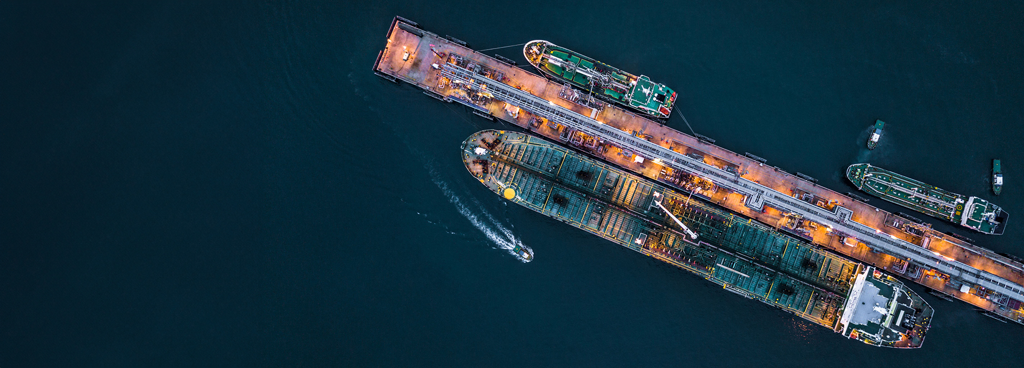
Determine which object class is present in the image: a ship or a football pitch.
ship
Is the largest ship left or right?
right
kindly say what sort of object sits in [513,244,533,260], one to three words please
boat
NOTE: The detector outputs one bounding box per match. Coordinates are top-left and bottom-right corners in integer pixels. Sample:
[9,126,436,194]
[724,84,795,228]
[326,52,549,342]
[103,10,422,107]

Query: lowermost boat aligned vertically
[992,159,1004,196]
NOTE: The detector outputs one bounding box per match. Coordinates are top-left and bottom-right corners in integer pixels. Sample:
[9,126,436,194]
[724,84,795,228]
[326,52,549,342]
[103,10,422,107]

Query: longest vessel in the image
[460,130,936,346]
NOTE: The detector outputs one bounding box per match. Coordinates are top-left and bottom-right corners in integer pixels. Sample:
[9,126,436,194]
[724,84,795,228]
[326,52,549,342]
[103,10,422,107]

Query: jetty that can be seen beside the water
[374,16,1024,322]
